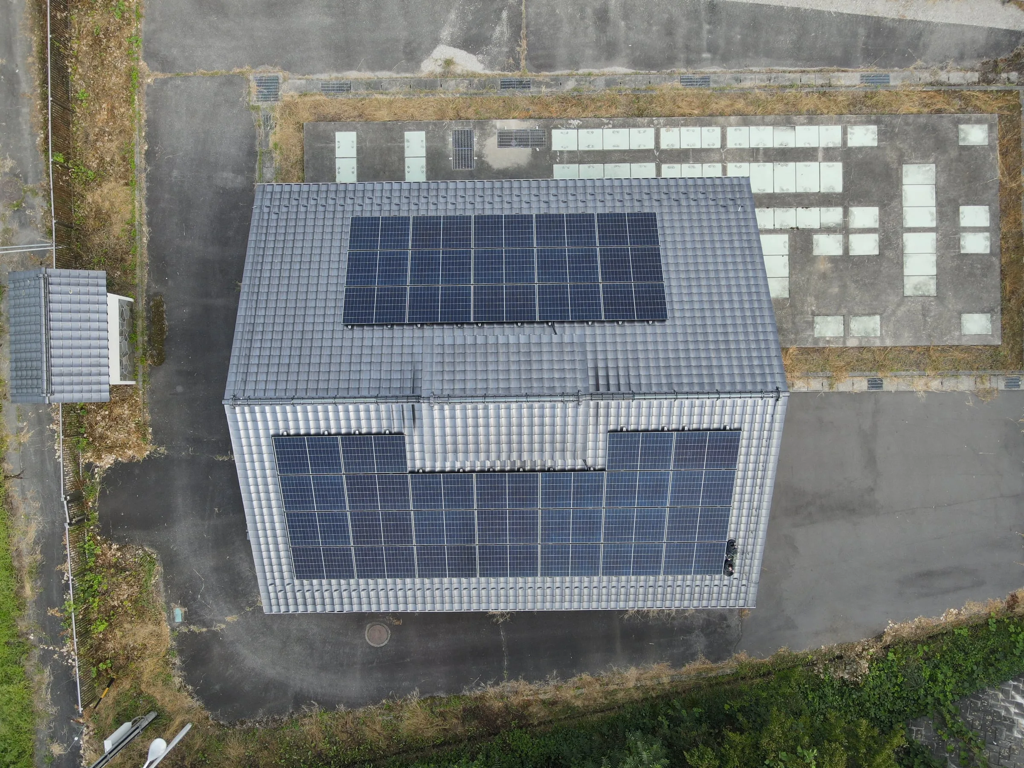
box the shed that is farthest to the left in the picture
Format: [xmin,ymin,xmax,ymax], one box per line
[5,262,133,406]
